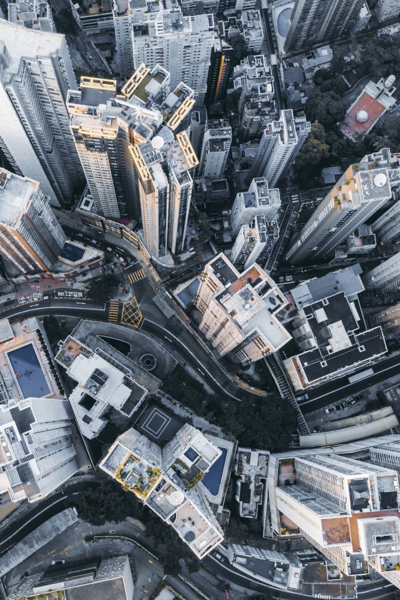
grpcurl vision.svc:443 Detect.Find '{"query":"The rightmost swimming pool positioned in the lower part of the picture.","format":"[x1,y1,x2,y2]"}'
[196,446,229,498]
